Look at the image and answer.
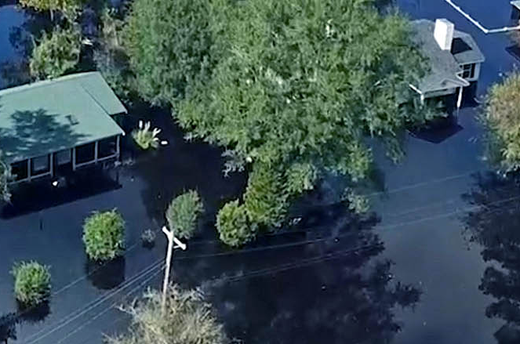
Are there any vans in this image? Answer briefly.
No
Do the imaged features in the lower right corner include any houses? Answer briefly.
No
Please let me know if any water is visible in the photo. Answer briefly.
Yes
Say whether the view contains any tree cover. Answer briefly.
Yes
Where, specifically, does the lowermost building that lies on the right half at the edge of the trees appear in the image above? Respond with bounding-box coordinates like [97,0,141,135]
[361,19,489,112]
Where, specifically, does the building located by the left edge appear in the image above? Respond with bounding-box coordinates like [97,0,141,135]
[0,61,129,183]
